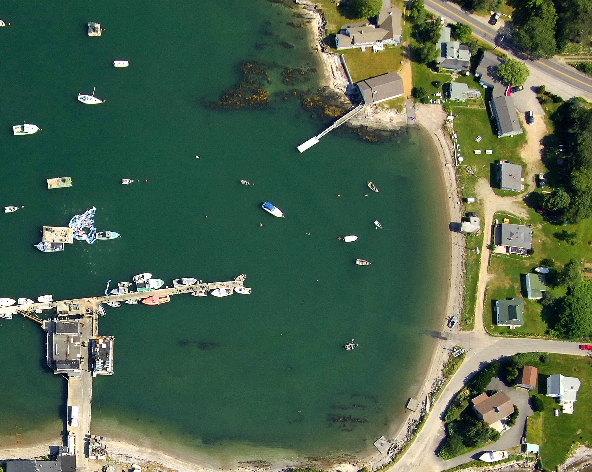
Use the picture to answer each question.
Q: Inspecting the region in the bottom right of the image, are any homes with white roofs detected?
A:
Yes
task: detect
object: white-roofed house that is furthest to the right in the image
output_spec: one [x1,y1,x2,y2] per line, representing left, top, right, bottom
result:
[543,374,581,414]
